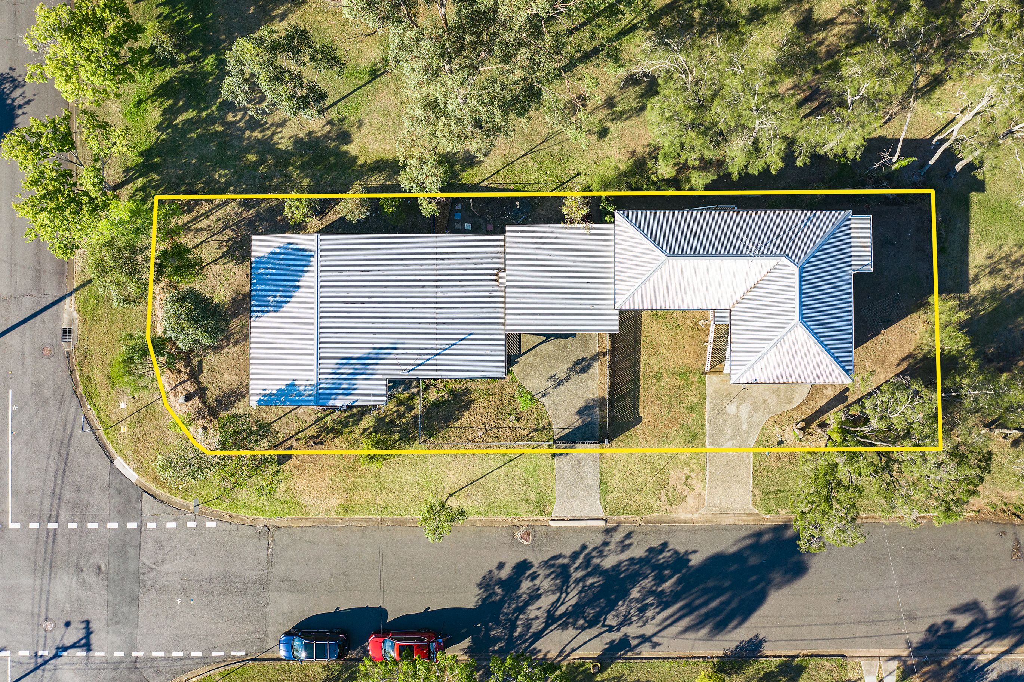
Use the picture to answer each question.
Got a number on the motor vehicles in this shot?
2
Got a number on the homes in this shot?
2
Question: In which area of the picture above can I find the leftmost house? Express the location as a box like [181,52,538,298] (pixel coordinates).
[249,233,507,408]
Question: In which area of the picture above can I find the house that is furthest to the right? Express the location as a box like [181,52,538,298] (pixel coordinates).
[612,208,876,385]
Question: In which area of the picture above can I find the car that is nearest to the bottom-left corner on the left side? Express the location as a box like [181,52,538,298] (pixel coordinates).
[280,628,350,665]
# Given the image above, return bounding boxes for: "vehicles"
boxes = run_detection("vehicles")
[368,629,441,665]
[280,628,350,665]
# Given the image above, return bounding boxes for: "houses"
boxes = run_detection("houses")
[612,208,876,385]
[249,233,507,408]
